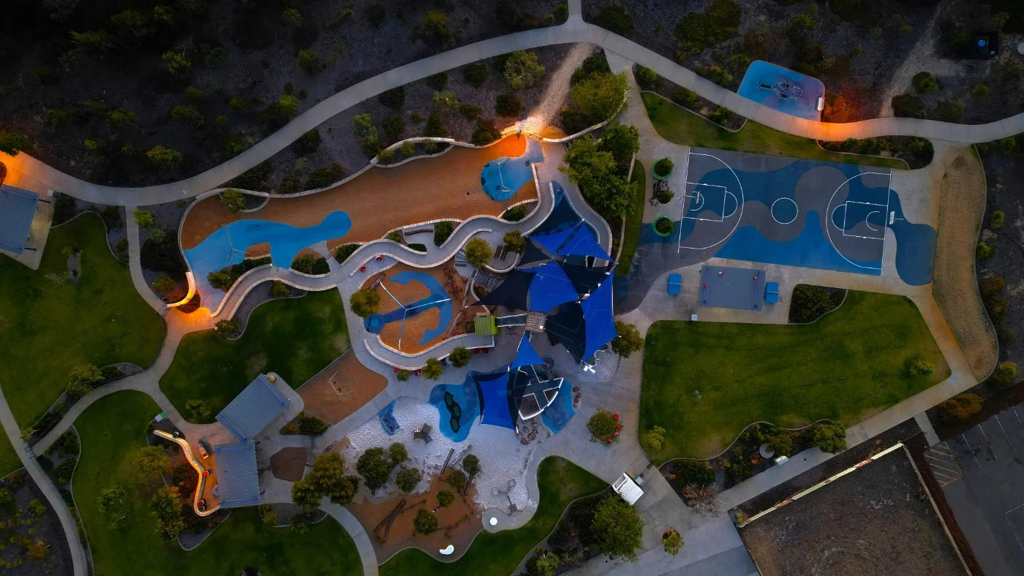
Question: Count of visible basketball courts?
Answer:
three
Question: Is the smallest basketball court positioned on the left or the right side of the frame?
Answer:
right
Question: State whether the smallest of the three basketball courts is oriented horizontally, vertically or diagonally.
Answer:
horizontally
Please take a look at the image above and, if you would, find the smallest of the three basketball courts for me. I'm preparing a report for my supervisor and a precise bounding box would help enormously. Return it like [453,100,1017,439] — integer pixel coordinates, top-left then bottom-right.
[714,210,883,275]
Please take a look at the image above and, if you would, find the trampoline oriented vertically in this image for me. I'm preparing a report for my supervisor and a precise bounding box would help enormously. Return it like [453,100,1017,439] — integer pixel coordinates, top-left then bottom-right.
[444,391,461,434]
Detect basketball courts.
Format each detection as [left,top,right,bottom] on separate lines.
[714,210,883,275]
[616,146,891,317]
[636,159,937,285]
